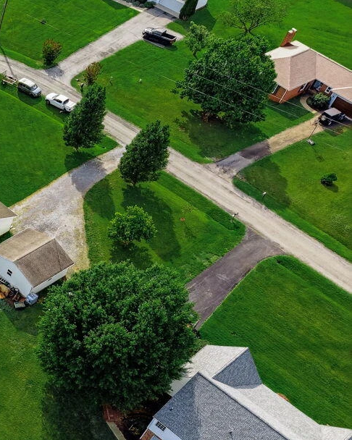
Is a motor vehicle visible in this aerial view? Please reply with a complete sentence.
Yes, the frame does contain a motor vehicle.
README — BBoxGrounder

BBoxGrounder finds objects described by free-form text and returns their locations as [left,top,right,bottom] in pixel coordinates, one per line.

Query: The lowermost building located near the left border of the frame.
[0,228,73,296]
